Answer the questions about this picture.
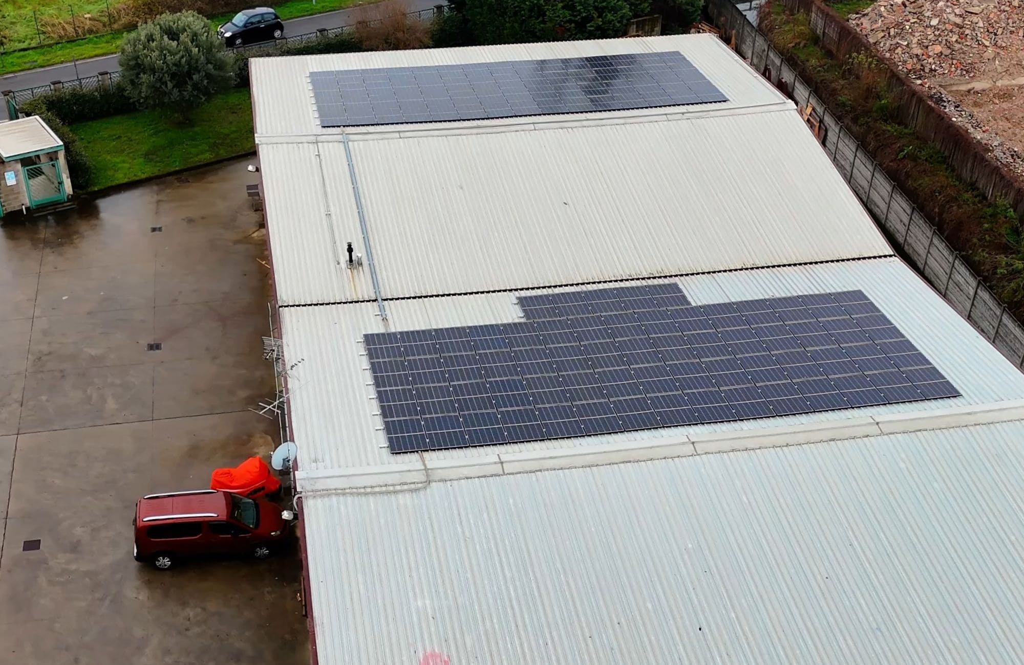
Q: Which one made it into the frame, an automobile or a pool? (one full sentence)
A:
Visible in the photo is an automobile.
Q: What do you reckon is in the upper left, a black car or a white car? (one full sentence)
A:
The one visible in the upper left is a black car.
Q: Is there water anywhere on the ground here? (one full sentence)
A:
No, water can't be seen anywhere here.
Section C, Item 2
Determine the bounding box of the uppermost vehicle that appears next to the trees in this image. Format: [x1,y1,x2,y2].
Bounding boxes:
[217,6,287,44]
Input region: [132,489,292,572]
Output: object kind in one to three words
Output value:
van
